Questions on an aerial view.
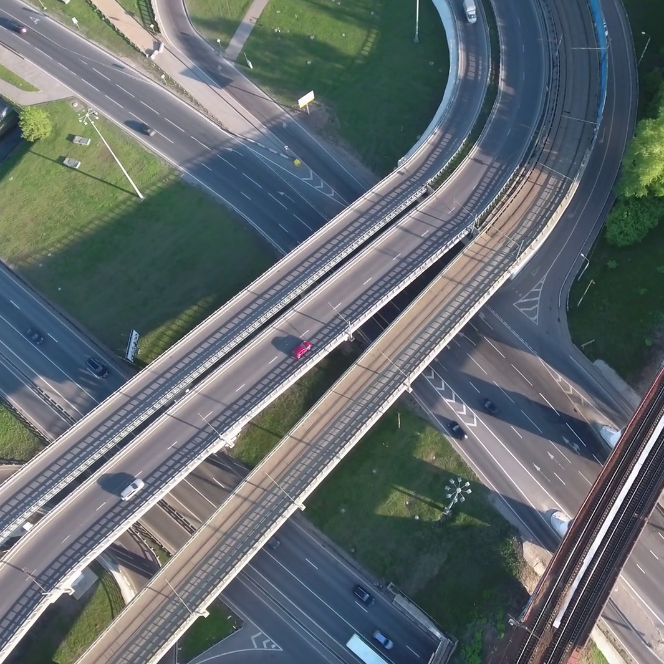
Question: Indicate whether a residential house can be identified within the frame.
No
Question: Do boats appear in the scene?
No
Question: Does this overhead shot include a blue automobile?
Yes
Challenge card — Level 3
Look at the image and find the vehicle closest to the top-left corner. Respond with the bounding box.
[5,19,25,34]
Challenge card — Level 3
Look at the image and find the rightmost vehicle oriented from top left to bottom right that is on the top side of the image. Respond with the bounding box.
[133,118,155,136]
